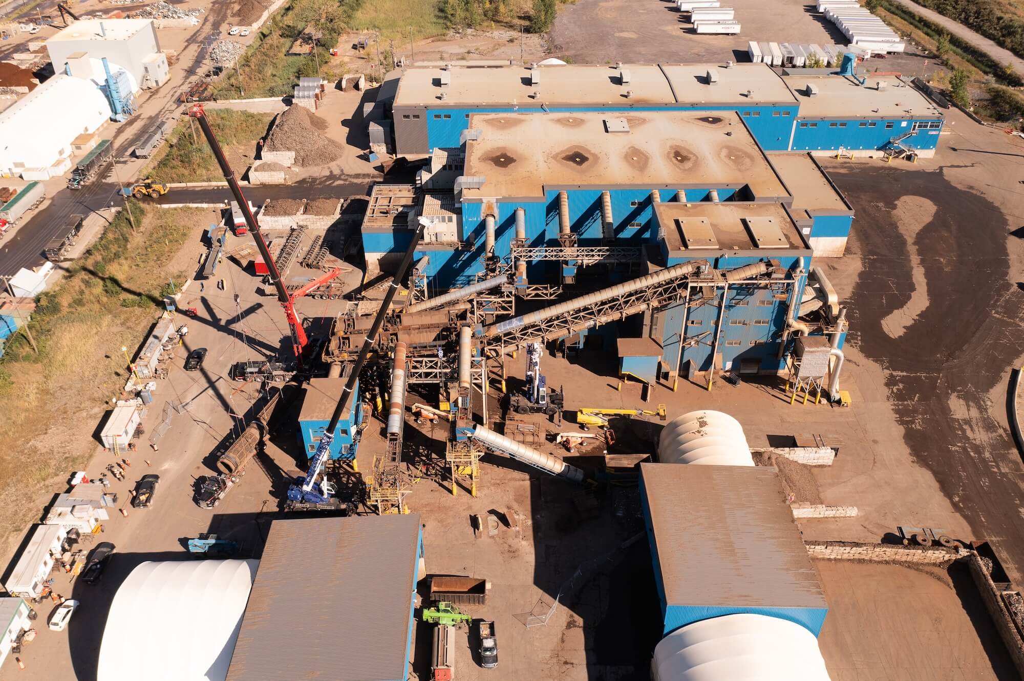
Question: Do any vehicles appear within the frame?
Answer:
Yes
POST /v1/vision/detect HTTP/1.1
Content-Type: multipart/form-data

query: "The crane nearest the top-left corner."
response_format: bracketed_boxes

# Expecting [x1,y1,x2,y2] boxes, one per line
[186,96,344,396]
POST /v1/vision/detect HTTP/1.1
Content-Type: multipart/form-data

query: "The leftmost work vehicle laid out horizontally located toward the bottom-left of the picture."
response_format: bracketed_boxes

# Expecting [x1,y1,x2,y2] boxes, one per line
[181,530,259,561]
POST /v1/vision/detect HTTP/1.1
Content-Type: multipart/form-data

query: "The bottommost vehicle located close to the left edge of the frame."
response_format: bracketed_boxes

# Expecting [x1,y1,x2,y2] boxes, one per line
[43,594,81,631]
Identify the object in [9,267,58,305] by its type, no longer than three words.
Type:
shed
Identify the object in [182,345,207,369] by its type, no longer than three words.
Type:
truck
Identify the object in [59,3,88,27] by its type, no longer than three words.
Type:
work vehicle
